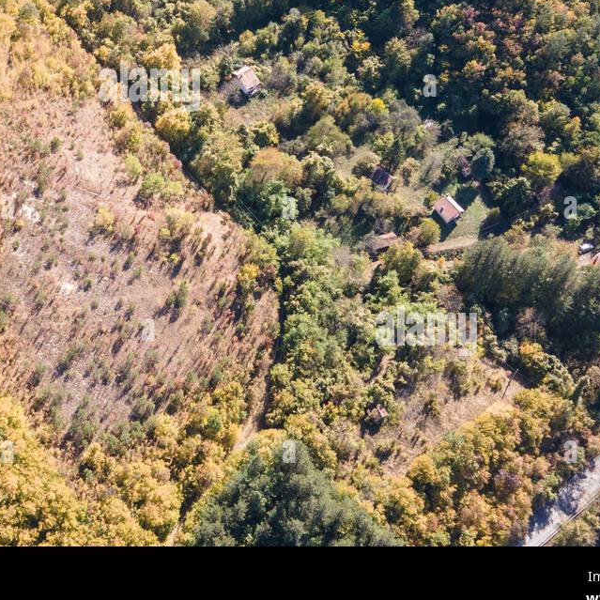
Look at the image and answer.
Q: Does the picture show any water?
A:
No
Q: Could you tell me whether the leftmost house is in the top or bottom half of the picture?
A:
top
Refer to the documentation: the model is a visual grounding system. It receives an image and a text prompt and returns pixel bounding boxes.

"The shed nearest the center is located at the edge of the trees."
[365,234,396,259]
